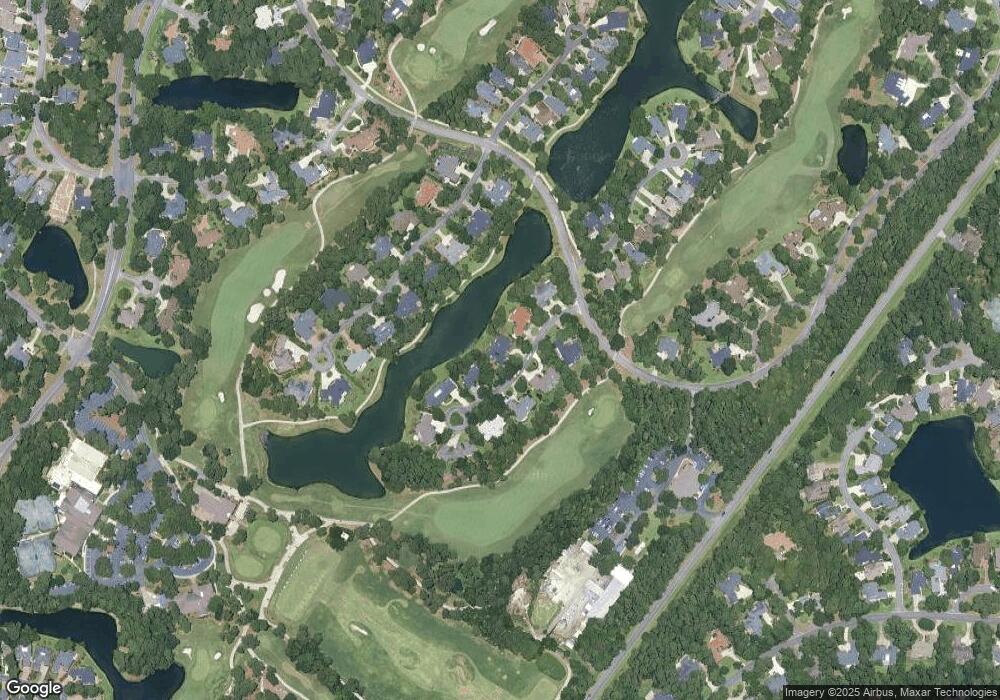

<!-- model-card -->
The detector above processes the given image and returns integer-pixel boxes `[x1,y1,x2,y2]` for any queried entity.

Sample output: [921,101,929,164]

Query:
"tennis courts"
[34,541,56,576]
[17,544,38,579]
[35,496,57,531]
[18,499,39,534]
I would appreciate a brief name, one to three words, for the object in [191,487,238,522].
building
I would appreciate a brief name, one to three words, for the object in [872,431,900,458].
house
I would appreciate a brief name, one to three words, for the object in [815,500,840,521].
house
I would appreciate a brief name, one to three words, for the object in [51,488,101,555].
building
